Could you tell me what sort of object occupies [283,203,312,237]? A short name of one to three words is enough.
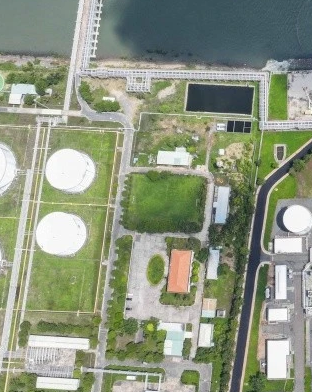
storage tank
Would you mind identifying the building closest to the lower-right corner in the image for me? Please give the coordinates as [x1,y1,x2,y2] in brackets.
[267,339,290,379]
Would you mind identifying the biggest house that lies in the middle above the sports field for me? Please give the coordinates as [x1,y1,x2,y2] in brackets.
[157,152,194,167]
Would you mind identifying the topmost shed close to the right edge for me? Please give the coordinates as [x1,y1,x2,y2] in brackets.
[274,238,303,253]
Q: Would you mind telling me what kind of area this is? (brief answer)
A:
industrial area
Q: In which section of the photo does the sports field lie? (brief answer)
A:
center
